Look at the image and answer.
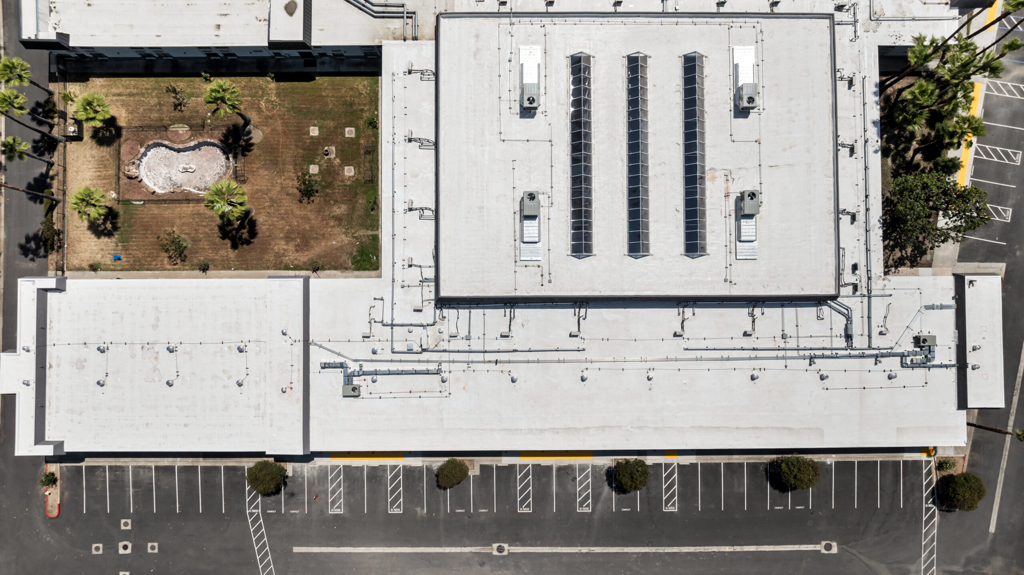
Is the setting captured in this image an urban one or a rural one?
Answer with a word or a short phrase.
urban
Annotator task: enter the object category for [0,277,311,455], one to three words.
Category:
building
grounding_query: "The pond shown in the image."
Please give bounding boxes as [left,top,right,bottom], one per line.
[135,138,233,196]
